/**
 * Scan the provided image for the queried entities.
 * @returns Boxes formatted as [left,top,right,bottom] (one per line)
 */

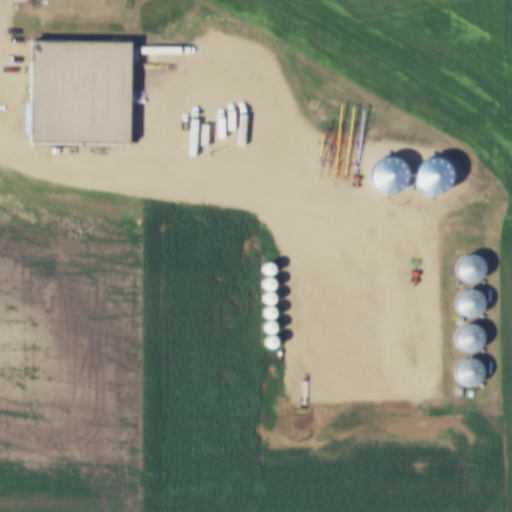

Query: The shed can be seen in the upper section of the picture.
[25,40,147,146]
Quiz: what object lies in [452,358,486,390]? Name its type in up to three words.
silo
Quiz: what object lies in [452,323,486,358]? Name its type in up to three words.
silo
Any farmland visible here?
Yes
